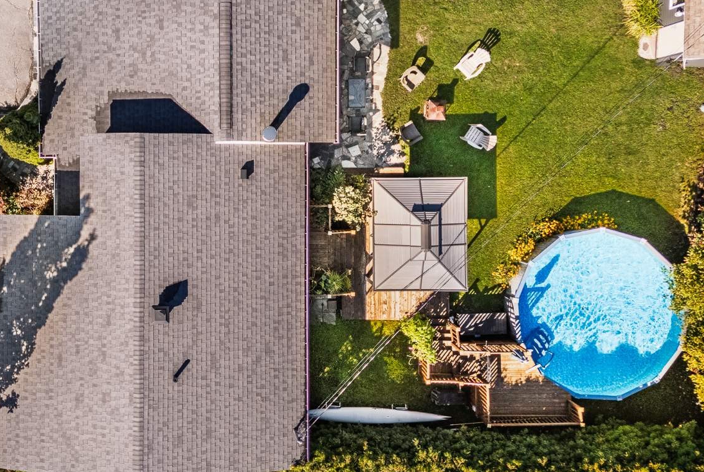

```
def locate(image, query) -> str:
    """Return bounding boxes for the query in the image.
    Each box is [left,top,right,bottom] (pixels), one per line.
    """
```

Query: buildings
[654,0,704,67]
[0,0,343,472]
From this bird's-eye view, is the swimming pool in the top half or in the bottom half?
bottom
